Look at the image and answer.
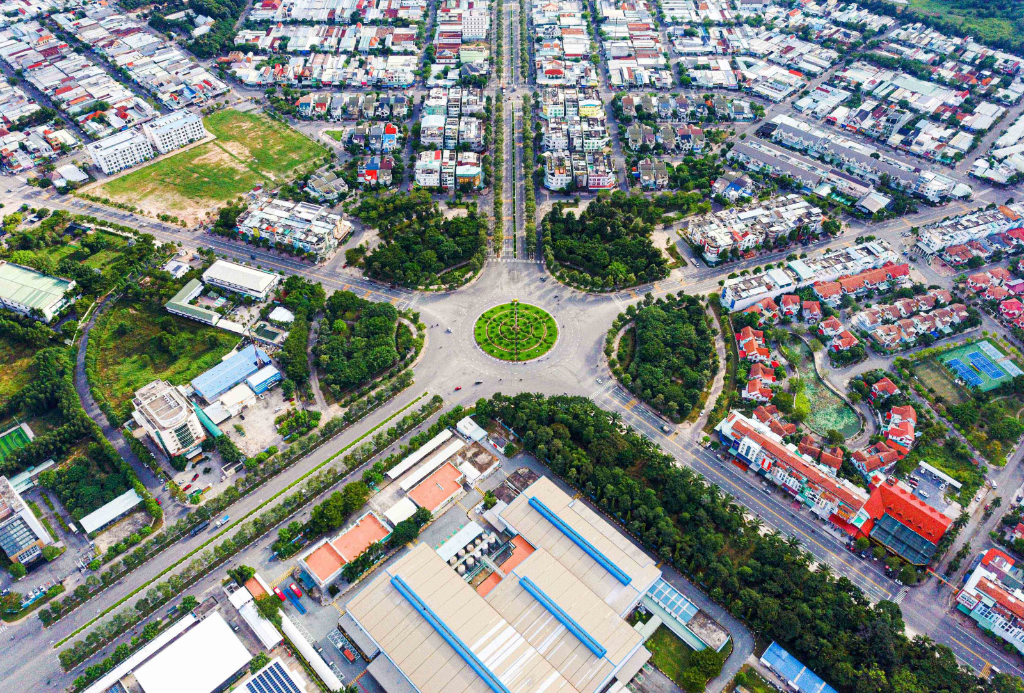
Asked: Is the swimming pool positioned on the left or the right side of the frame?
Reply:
left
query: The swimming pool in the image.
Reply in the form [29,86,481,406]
[246,321,285,345]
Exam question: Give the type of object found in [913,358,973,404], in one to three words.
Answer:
sports field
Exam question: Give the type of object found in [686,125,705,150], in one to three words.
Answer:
house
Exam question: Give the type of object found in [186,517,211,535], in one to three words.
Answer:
vehicle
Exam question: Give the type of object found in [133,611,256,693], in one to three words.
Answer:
building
